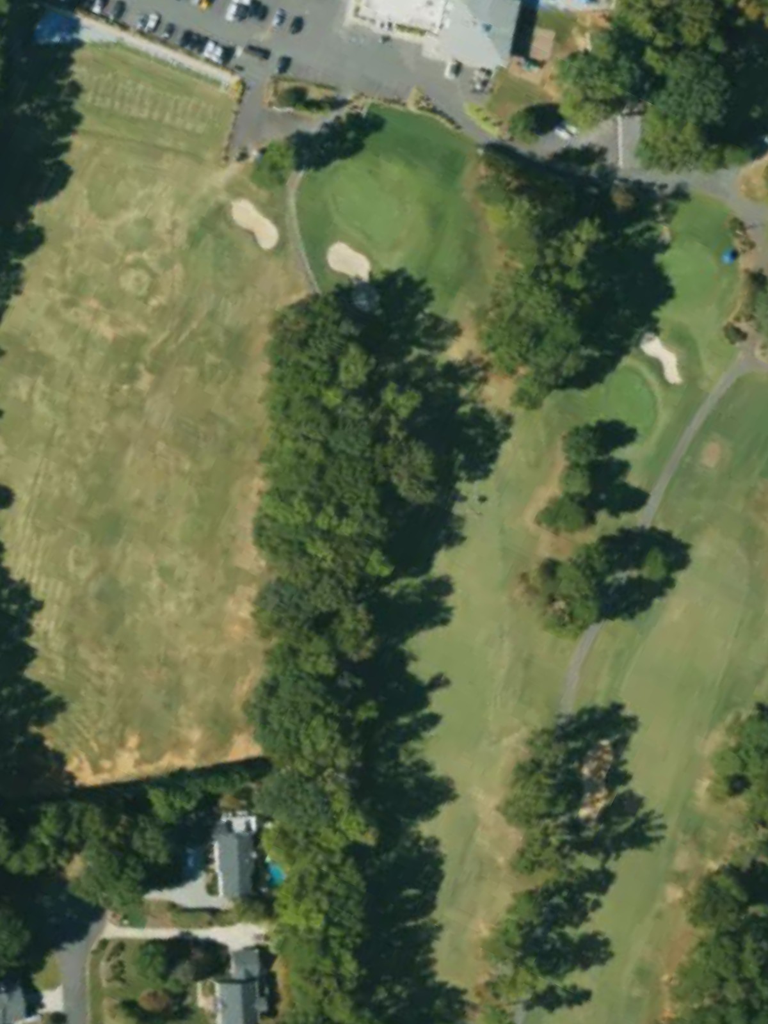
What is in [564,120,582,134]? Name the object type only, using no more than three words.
car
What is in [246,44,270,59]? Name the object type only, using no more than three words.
car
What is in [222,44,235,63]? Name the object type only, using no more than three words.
vehicle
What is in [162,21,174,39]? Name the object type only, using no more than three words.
vehicle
